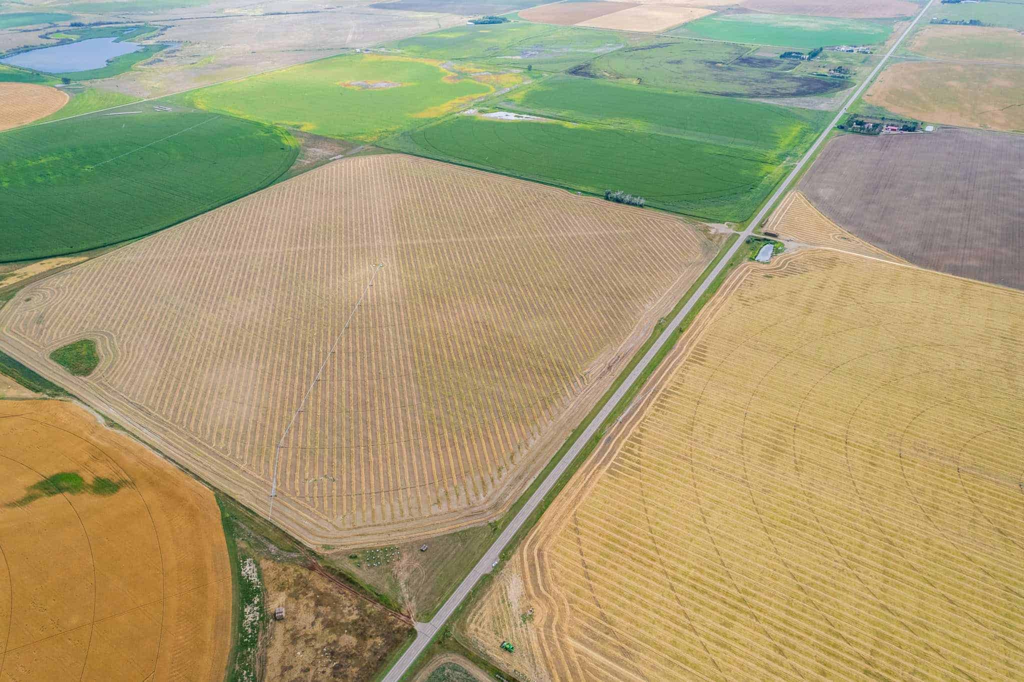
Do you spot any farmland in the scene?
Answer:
Yes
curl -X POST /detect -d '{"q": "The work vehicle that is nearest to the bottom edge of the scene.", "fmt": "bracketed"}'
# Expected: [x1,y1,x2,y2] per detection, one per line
[497,639,514,652]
